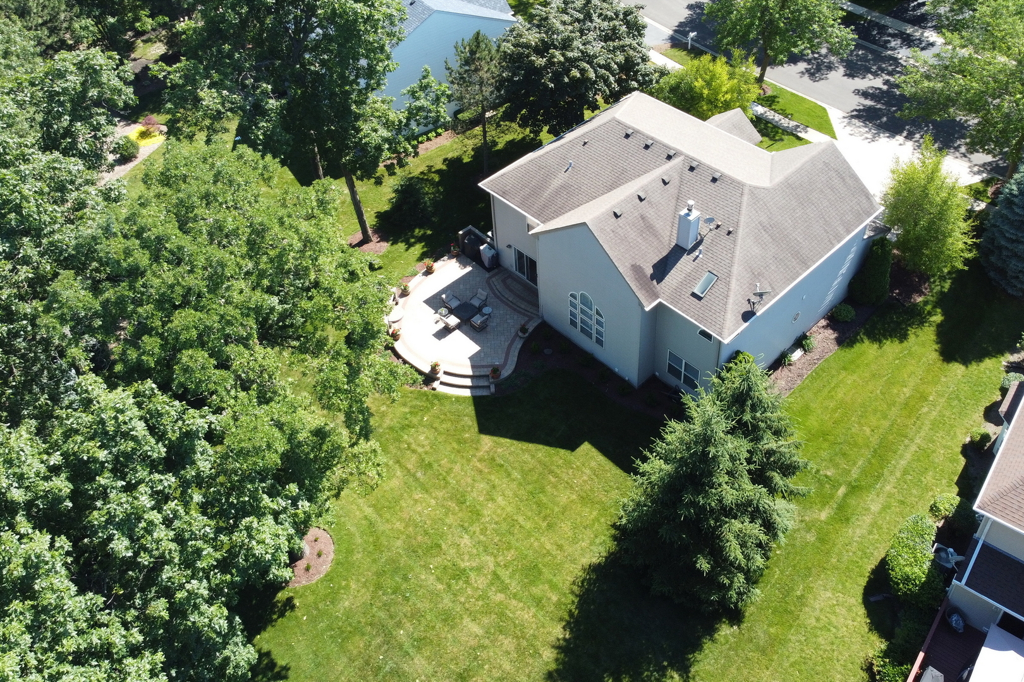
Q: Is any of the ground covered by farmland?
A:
No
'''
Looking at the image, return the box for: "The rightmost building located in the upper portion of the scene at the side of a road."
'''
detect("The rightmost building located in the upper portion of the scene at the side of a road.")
[475,89,887,397]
